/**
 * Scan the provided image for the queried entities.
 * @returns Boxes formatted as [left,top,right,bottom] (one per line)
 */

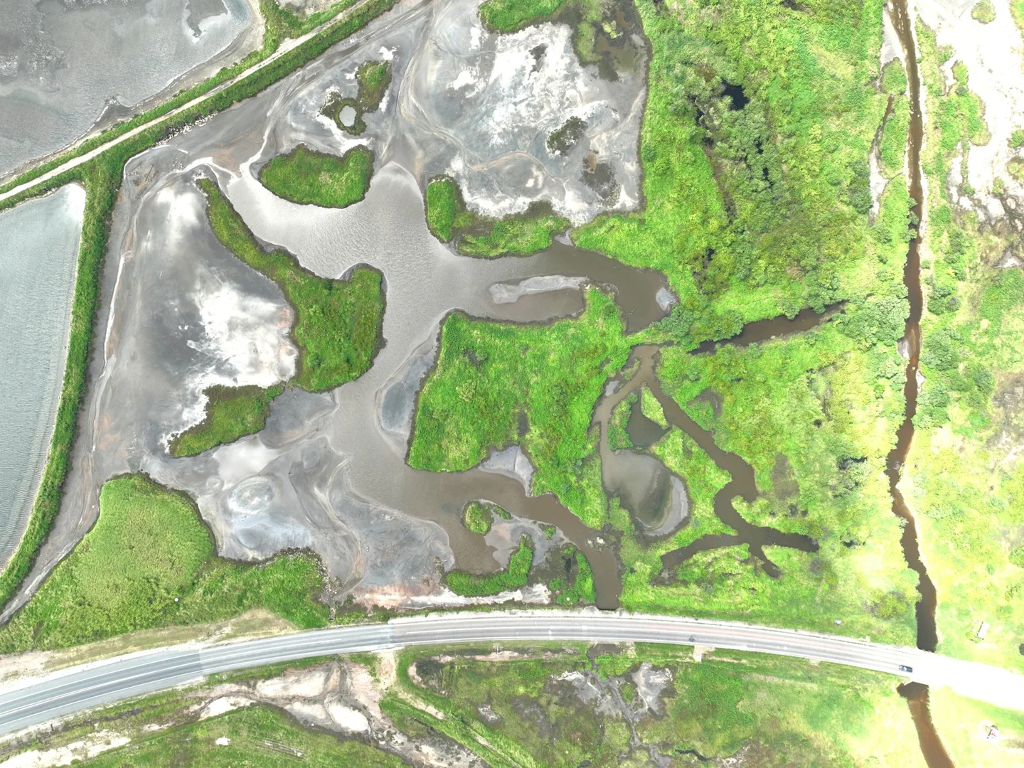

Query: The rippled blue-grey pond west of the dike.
[0,186,82,570]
